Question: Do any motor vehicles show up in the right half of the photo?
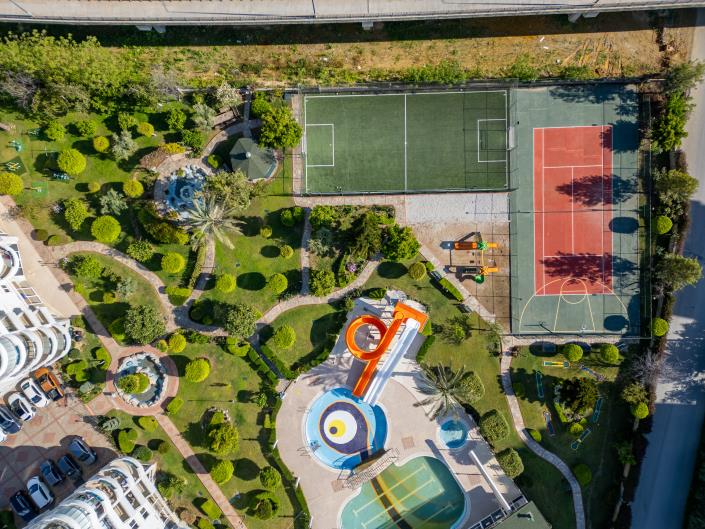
No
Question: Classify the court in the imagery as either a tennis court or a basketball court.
tennis court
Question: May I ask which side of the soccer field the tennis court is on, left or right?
on its right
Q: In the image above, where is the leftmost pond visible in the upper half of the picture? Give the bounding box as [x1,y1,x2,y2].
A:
[161,166,211,214]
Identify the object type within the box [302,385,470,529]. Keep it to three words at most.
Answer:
swimming pool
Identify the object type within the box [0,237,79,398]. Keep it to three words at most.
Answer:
building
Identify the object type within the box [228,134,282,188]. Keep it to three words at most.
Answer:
gazebo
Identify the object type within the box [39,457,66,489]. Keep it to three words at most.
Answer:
car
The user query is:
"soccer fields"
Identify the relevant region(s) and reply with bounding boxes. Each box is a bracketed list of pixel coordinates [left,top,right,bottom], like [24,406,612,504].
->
[304,87,510,194]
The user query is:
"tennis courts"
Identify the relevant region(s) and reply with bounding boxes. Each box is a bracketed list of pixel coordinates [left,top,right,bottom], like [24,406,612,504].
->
[511,82,640,335]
